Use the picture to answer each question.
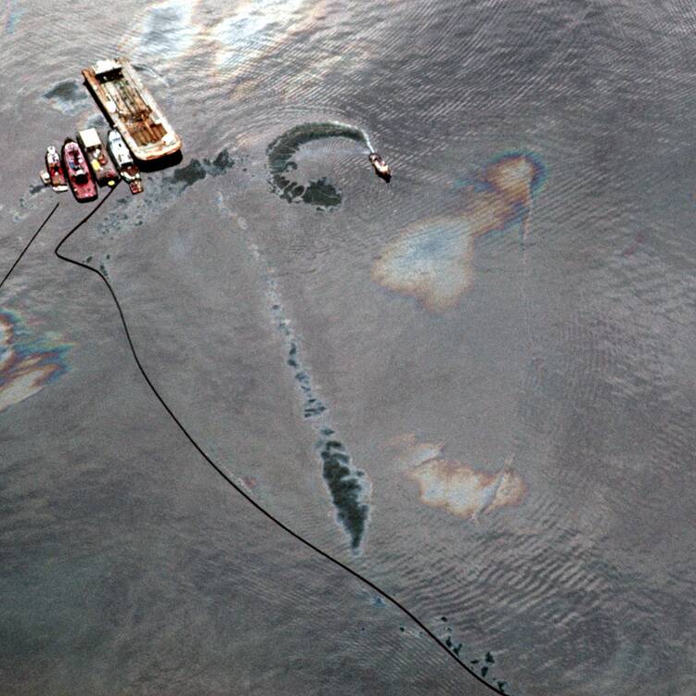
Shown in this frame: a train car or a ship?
ship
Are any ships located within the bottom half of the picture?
No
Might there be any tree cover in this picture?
No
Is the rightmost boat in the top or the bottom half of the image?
top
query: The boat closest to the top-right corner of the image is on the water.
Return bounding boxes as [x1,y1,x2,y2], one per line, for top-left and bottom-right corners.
[369,153,389,178]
